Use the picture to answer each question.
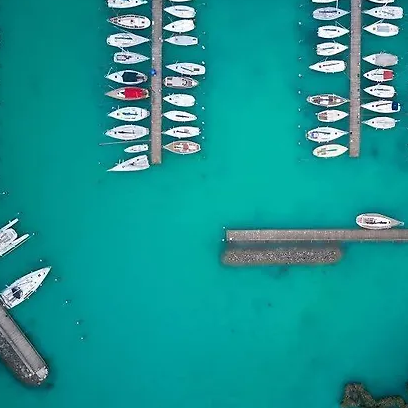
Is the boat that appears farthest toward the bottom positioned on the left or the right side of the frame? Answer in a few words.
left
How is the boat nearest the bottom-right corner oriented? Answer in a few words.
horizontally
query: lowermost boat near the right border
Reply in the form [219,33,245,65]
[355,213,405,233]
